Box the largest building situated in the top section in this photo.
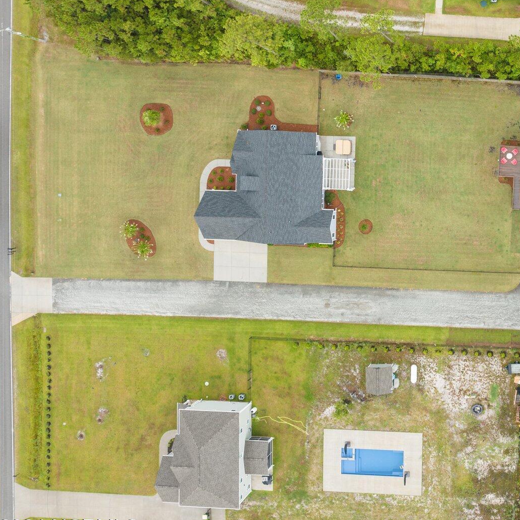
[194,127,337,245]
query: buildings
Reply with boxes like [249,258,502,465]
[194,127,337,245]
[365,360,400,397]
[156,402,251,512]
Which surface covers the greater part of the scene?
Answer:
grass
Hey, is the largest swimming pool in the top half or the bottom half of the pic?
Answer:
bottom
